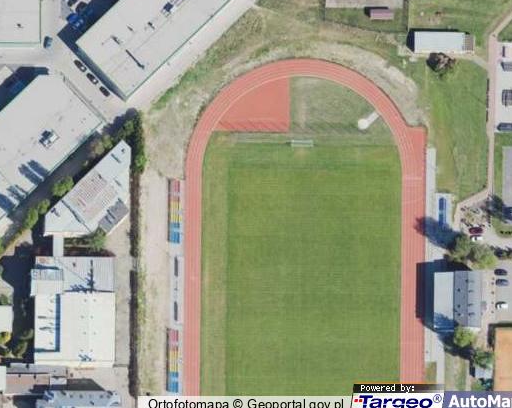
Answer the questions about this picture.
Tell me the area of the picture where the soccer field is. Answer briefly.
center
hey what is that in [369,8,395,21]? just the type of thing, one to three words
shed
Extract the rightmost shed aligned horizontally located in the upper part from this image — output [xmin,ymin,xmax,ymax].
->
[415,33,464,55]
